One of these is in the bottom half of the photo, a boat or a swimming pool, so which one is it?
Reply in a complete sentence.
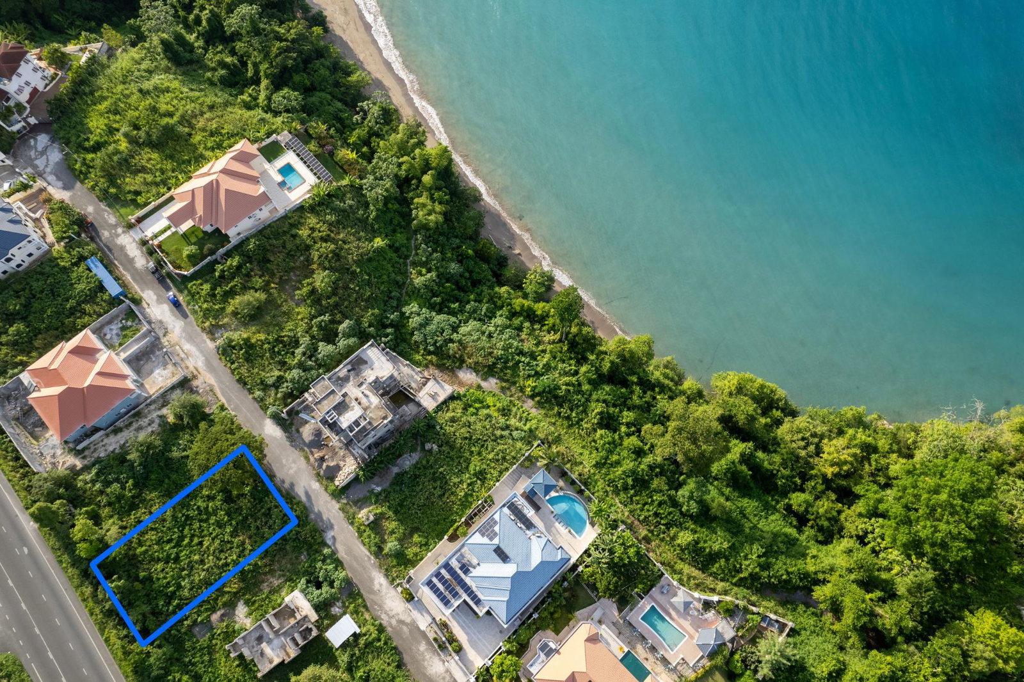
The one visible in the bottom half of the photo is a swimming pool.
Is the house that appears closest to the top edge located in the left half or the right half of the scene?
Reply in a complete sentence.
The house that appears closest to the top edge sits on the left side.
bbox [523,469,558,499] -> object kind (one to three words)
building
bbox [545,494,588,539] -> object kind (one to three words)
swimming pool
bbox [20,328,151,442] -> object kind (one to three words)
house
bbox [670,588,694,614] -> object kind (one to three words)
umbrella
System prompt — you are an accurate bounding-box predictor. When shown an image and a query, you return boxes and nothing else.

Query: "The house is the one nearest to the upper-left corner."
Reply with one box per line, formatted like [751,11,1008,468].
[0,41,58,122]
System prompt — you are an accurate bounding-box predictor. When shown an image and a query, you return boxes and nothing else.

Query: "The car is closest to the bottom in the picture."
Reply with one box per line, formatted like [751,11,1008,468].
[164,291,180,307]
